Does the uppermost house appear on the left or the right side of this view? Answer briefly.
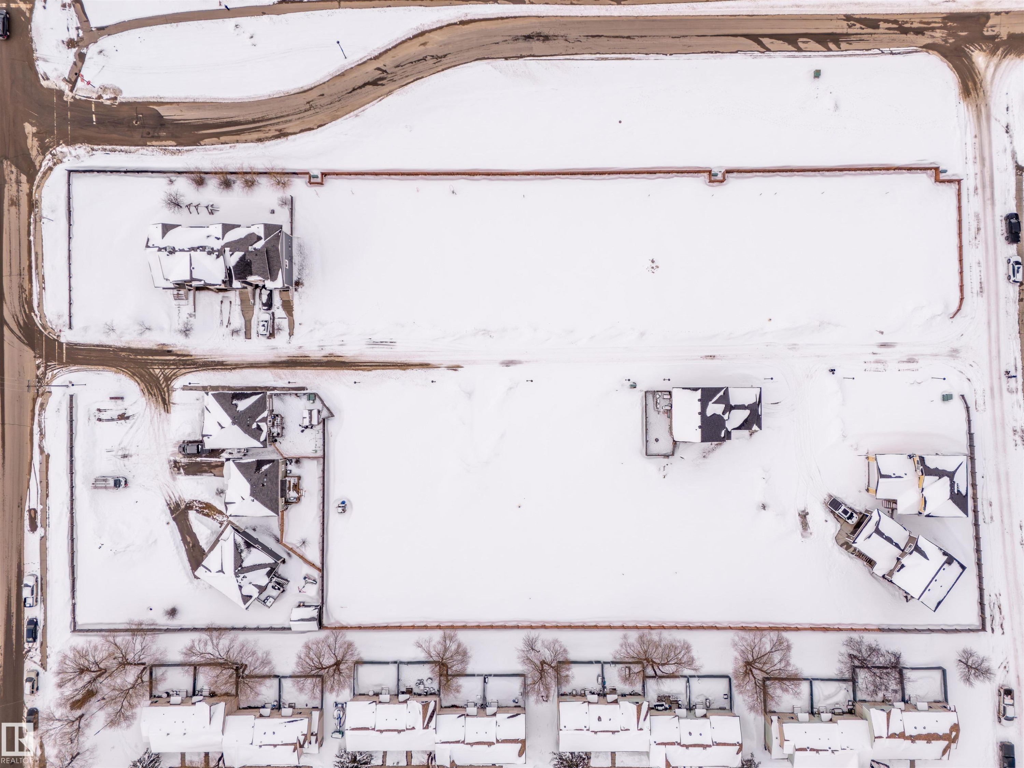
left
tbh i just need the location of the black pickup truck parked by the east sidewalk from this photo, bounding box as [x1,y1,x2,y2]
[1005,213,1022,244]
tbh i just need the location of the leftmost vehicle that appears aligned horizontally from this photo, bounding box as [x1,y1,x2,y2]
[91,476,127,490]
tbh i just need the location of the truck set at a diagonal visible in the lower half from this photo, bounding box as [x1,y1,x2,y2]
[826,497,858,524]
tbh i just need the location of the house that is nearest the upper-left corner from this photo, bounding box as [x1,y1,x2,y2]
[145,223,293,312]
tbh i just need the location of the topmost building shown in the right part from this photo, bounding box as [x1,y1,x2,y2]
[655,387,762,443]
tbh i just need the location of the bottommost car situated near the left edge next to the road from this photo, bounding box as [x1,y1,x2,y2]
[25,707,40,733]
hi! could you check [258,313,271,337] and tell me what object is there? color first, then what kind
white vehicle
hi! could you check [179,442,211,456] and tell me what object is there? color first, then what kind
gray vehicle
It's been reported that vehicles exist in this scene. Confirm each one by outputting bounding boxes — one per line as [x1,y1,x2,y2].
[999,741,1015,768]
[91,476,127,490]
[0,11,11,40]
[258,313,271,337]
[260,288,273,313]
[826,497,858,524]
[1005,213,1022,244]
[22,574,39,607]
[25,707,40,733]
[998,687,1015,726]
[1008,257,1024,283]
[179,442,211,456]
[24,618,38,644]
[24,669,39,696]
